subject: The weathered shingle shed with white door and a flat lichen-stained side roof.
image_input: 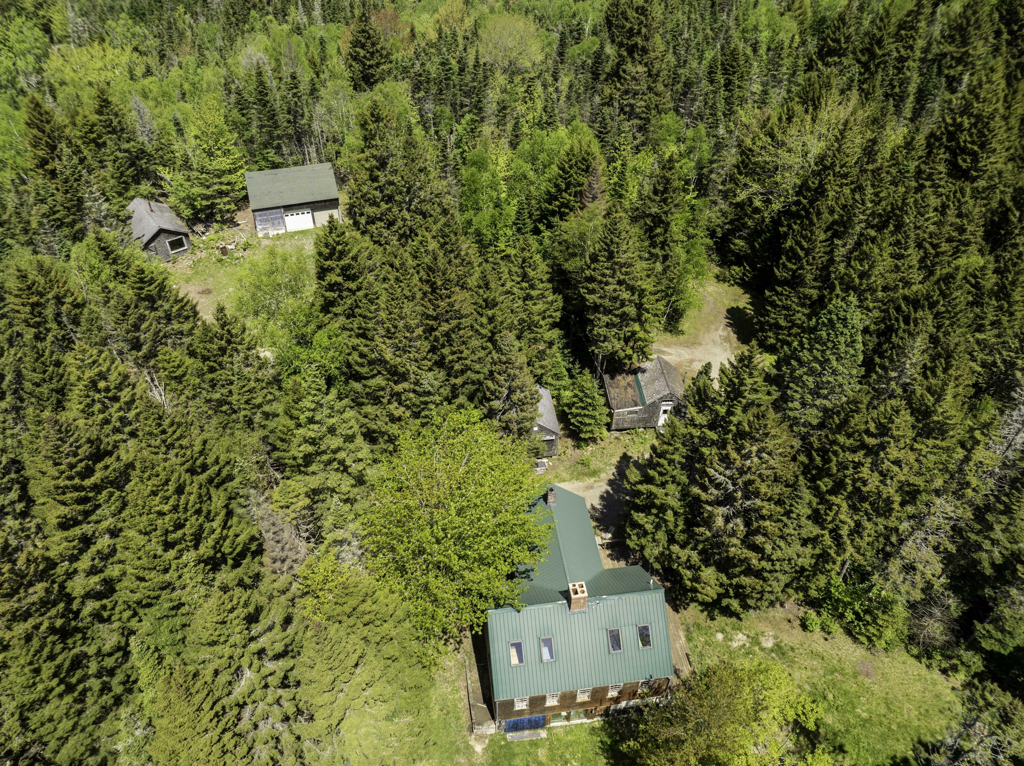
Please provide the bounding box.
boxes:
[604,356,688,432]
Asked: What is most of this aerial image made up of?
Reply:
trees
